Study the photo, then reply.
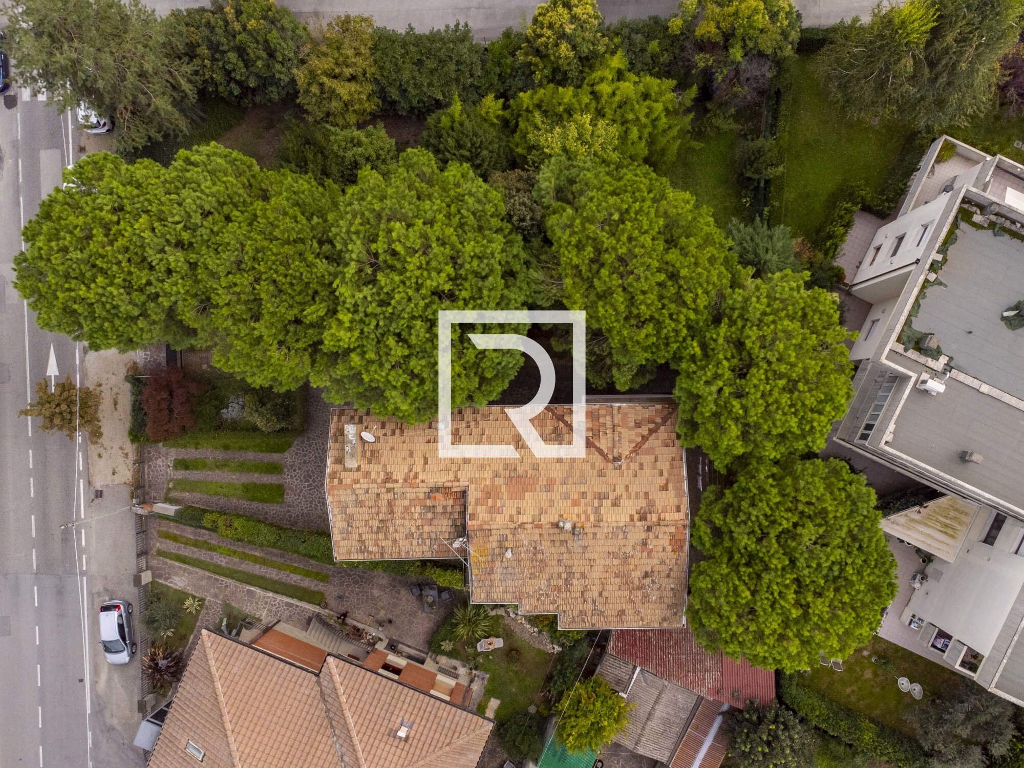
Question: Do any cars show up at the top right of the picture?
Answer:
No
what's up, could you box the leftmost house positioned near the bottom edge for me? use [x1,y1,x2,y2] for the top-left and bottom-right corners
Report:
[146,611,501,768]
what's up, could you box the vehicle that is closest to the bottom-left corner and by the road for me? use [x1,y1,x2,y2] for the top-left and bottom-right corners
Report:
[90,601,133,667]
